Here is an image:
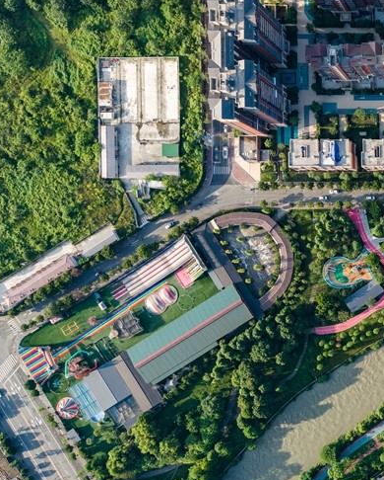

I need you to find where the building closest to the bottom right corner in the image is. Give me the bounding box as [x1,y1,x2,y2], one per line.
[345,279,384,311]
